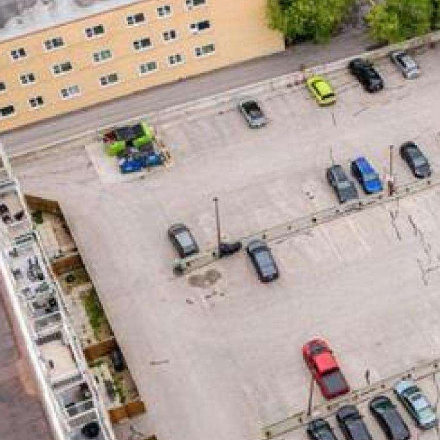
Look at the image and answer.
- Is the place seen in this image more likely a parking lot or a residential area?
parking lot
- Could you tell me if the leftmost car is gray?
Yes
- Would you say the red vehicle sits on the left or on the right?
right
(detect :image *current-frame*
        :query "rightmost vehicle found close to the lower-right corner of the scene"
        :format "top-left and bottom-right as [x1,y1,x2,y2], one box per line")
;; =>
[396,379,437,433]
